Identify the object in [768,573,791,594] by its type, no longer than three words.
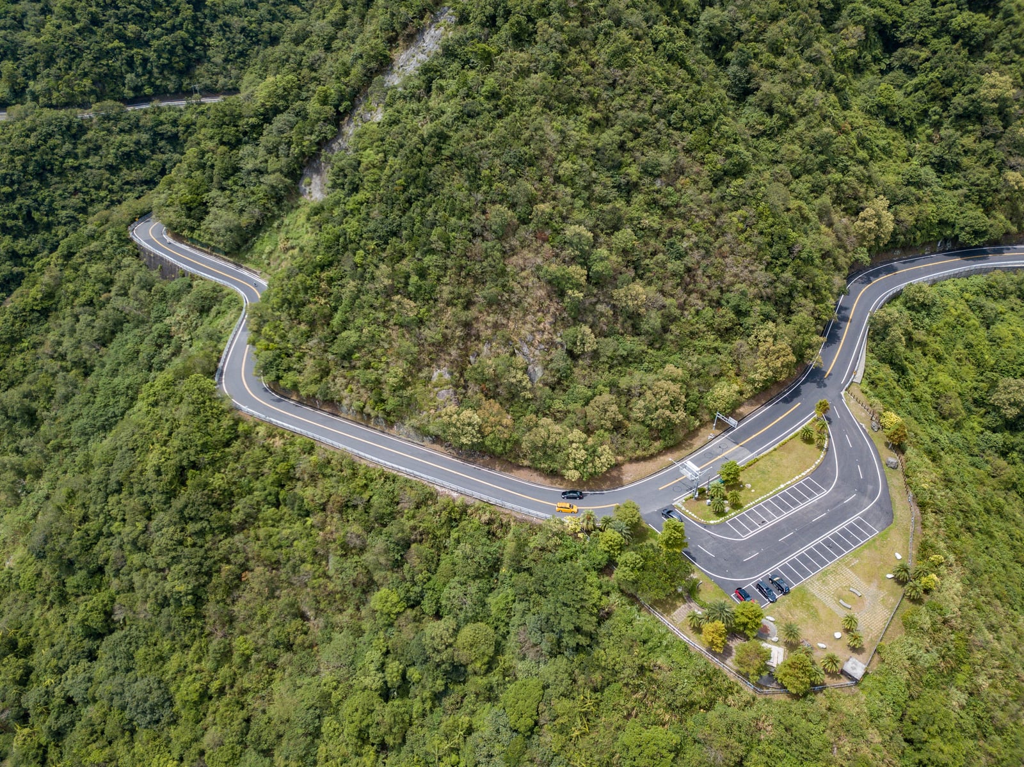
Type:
car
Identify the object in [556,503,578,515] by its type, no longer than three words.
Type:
vehicle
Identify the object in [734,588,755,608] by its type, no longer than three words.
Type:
car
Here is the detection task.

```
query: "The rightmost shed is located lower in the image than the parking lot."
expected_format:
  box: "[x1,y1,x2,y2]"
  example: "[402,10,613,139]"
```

[840,657,866,685]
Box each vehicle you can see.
[734,588,755,608]
[662,509,682,524]
[562,491,583,500]
[768,573,791,594]
[556,503,578,515]
[755,581,777,603]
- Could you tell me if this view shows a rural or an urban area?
rural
